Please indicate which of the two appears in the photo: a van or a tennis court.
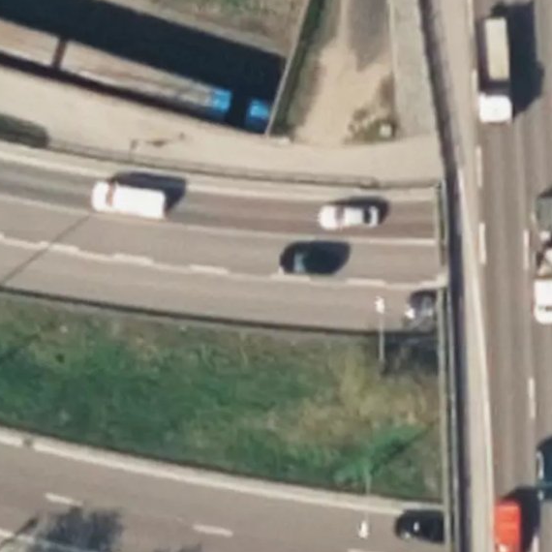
van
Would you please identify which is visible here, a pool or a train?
train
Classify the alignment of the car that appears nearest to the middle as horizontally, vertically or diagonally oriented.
horizontally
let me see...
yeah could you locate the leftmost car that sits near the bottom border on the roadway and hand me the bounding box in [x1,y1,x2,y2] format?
[396,512,446,543]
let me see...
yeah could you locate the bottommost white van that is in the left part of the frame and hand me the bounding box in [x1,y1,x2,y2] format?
[91,181,167,216]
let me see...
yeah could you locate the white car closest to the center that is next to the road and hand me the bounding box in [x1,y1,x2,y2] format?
[318,202,378,230]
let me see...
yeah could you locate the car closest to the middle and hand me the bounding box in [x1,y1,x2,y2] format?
[279,243,339,272]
